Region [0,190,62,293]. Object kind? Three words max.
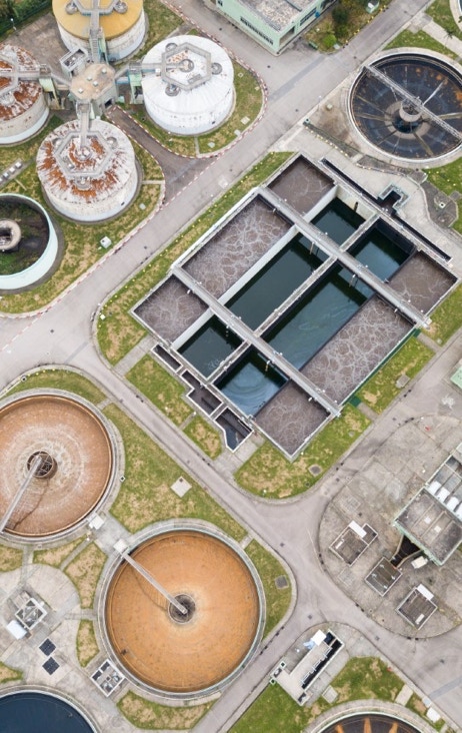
storage tank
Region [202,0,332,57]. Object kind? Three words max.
building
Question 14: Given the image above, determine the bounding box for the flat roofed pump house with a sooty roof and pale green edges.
[390,486,462,563]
